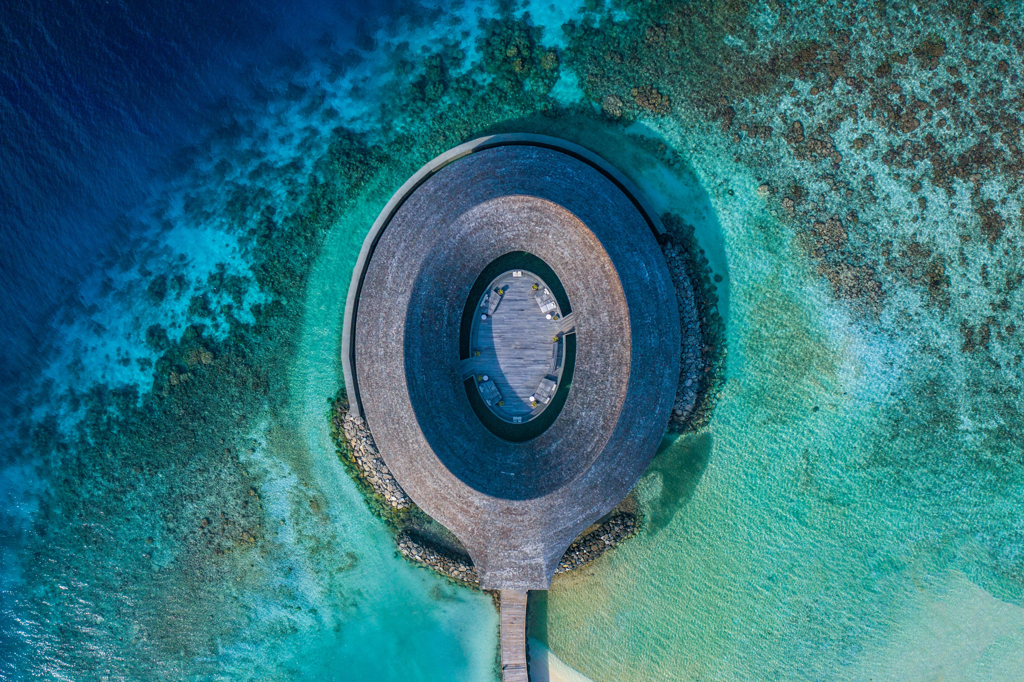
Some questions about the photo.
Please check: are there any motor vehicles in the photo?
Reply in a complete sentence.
No, there's no motor vehicle here.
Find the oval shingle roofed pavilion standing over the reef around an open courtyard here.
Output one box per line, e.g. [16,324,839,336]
[355,145,681,590]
